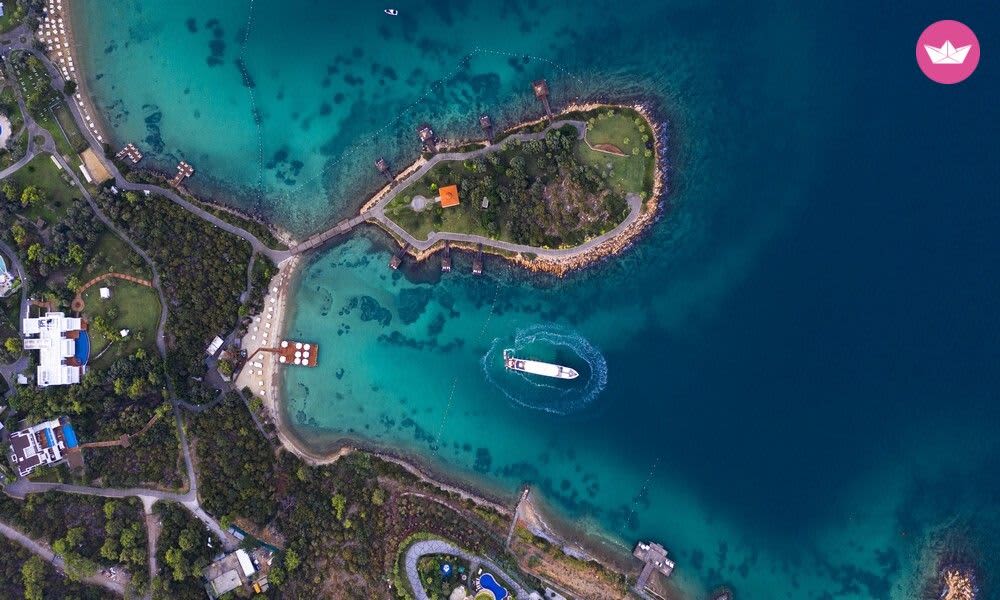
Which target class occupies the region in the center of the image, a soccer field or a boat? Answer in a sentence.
It is a boat that can be seen in the center of the image.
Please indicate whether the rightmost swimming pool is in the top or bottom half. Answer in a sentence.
The bottom half of the photo is where the rightmost swimming pool is.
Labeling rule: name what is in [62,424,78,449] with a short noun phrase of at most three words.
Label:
swimming pool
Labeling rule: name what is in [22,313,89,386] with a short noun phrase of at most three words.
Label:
house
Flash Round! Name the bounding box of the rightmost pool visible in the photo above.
[479,573,506,600]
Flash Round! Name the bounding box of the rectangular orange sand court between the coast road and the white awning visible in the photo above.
[81,149,109,184]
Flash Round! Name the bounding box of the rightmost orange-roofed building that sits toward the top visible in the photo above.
[436,185,460,208]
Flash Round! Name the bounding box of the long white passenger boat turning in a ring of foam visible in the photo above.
[504,349,580,378]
